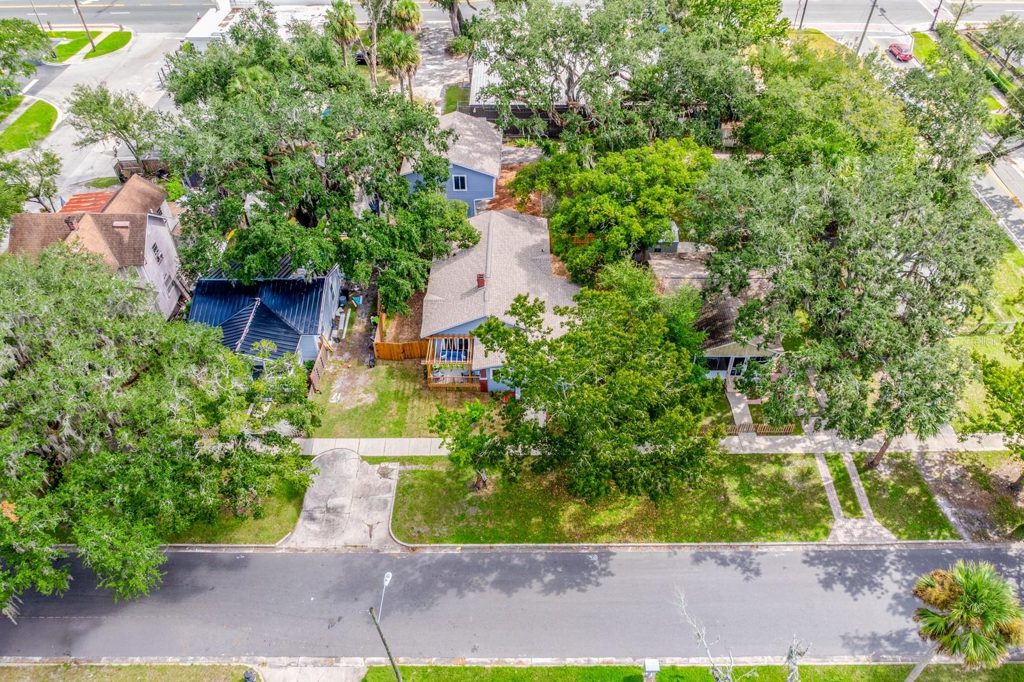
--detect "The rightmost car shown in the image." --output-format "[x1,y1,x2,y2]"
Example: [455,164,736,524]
[889,47,918,63]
